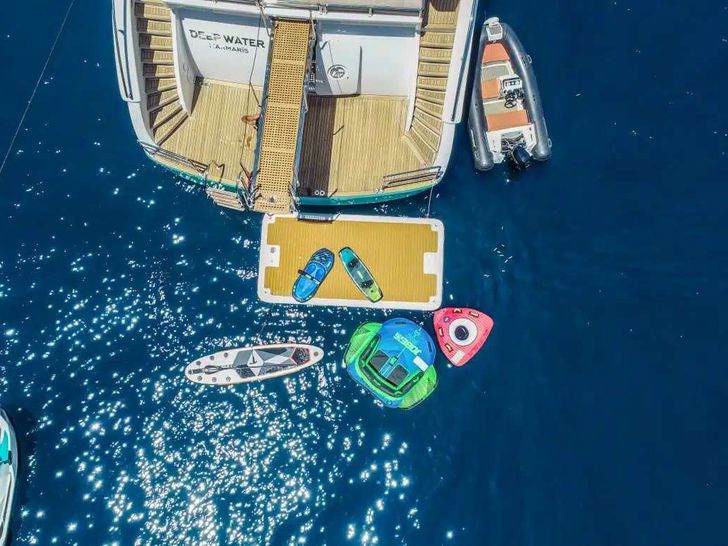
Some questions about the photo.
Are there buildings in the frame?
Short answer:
No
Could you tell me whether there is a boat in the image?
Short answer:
Yes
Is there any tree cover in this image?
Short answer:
No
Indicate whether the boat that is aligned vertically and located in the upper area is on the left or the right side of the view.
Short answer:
right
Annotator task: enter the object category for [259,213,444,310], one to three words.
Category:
pier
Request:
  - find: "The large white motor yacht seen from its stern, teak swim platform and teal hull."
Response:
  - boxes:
[113,0,481,215]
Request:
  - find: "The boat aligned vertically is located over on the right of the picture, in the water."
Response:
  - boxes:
[470,16,551,171]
